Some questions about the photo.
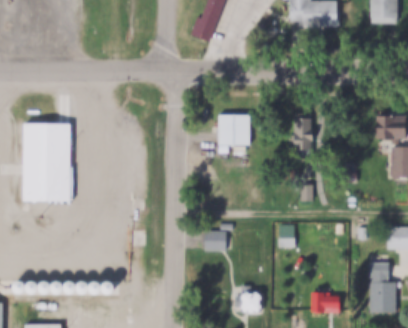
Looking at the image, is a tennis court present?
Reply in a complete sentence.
No, the photo shows no tennis court.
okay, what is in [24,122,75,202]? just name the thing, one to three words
building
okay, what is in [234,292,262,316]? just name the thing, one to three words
house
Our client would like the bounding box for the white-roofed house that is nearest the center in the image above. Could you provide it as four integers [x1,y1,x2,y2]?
[218,114,252,158]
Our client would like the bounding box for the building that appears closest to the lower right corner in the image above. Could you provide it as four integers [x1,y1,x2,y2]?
[370,255,398,316]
